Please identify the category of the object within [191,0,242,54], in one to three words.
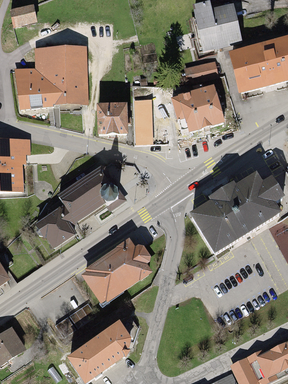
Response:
house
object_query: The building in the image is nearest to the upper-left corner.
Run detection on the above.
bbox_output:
[10,4,38,30]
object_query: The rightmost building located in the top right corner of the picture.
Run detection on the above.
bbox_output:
[229,36,288,95]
